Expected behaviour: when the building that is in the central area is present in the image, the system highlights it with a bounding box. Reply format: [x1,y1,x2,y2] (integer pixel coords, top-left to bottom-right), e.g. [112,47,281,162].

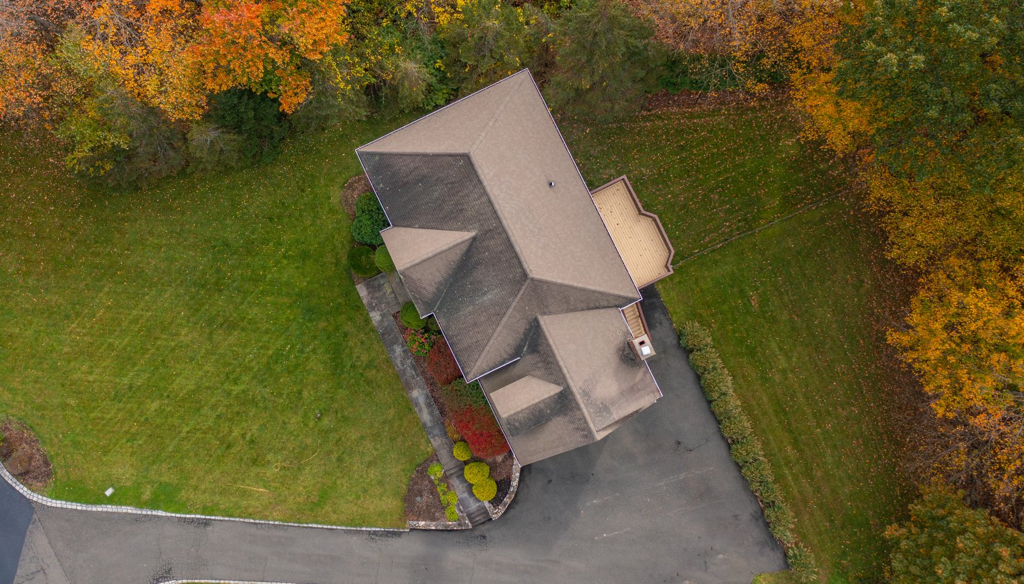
[354,66,663,466]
